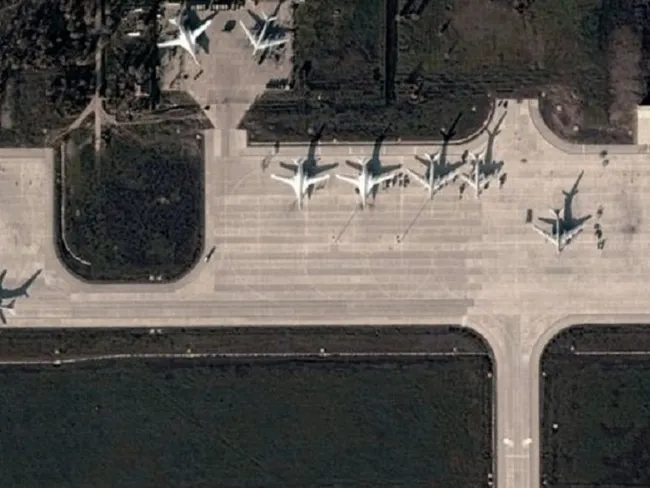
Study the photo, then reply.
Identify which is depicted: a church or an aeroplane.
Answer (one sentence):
The image shows an aeroplane.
